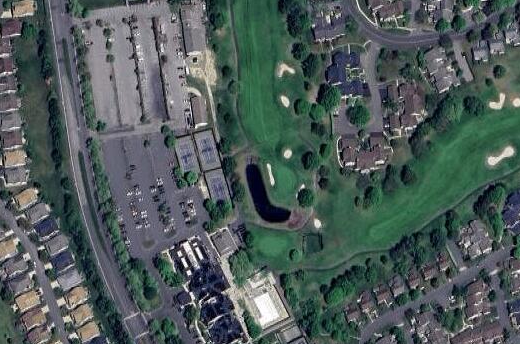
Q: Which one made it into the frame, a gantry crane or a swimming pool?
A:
swimming pool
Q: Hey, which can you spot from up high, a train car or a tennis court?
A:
tennis court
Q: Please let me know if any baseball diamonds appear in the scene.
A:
No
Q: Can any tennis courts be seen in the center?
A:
Yes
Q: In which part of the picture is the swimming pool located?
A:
bottom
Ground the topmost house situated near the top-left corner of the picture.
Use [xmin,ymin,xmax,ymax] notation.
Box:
[14,0,35,19]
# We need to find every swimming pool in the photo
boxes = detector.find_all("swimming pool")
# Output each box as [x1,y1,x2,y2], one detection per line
[245,272,288,333]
